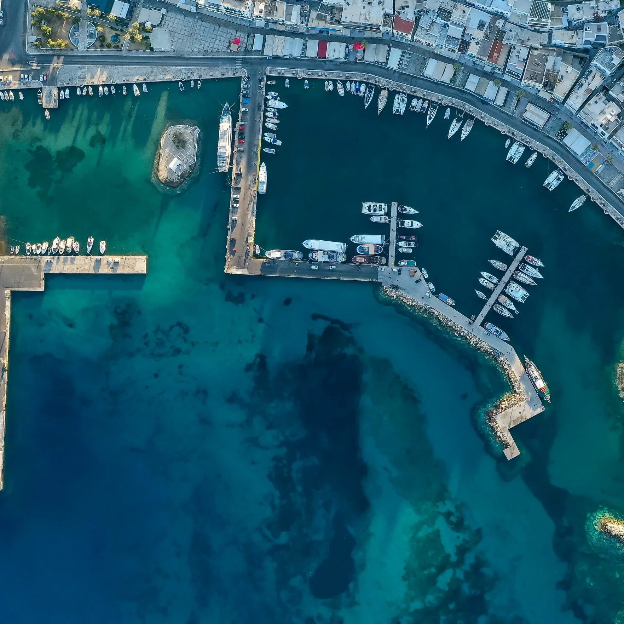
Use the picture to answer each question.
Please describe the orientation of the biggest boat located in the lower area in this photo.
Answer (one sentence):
The biggest boat located in the lower area runs on a diagonal in the image.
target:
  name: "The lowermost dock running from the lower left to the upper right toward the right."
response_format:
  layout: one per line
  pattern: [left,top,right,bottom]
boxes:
[474,247,528,325]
